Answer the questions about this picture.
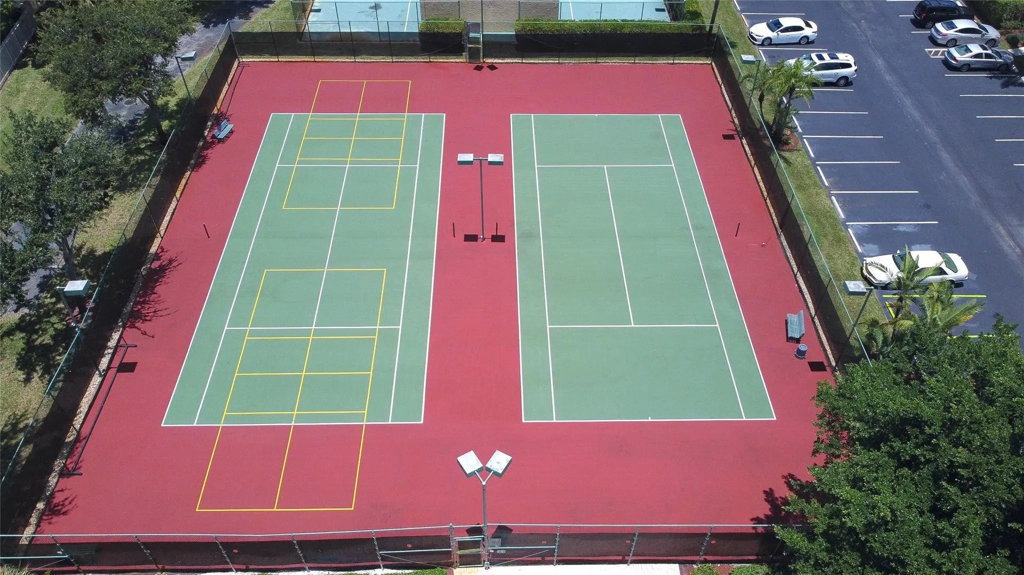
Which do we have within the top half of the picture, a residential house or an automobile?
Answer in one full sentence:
The feature located within the top half of the picture is an automobile.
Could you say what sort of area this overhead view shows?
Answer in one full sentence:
The picture captures a sports ground.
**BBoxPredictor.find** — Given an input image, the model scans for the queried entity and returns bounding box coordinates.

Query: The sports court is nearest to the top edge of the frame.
[303,0,670,42]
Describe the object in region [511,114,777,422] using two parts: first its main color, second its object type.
green tennis court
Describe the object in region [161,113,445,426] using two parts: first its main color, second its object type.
green tennis court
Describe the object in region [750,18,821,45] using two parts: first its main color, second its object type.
white car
